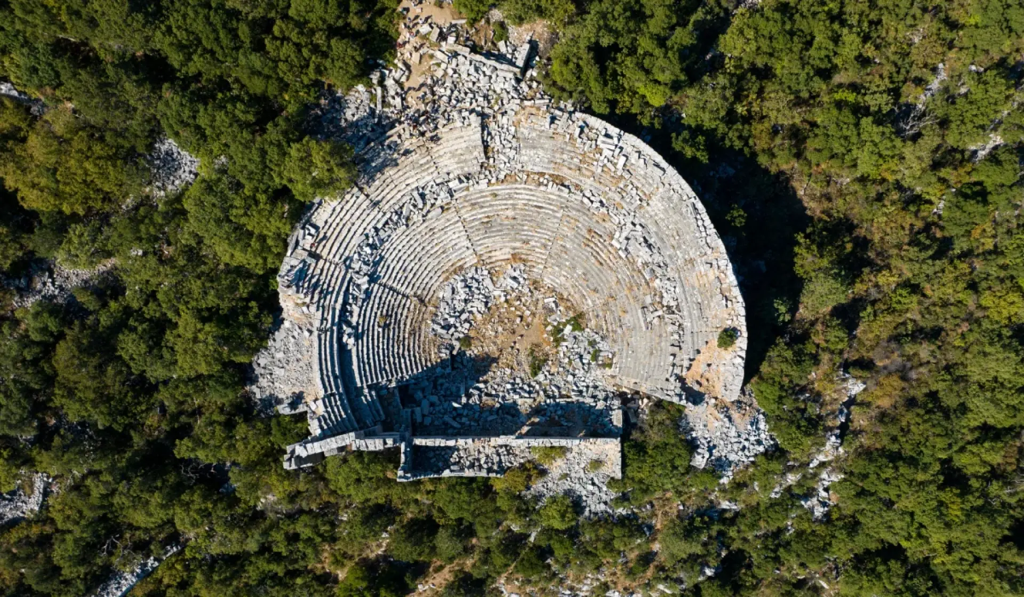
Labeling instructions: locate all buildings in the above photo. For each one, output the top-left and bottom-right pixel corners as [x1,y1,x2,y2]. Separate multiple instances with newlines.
[397,396,622,481]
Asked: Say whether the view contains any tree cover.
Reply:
Yes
